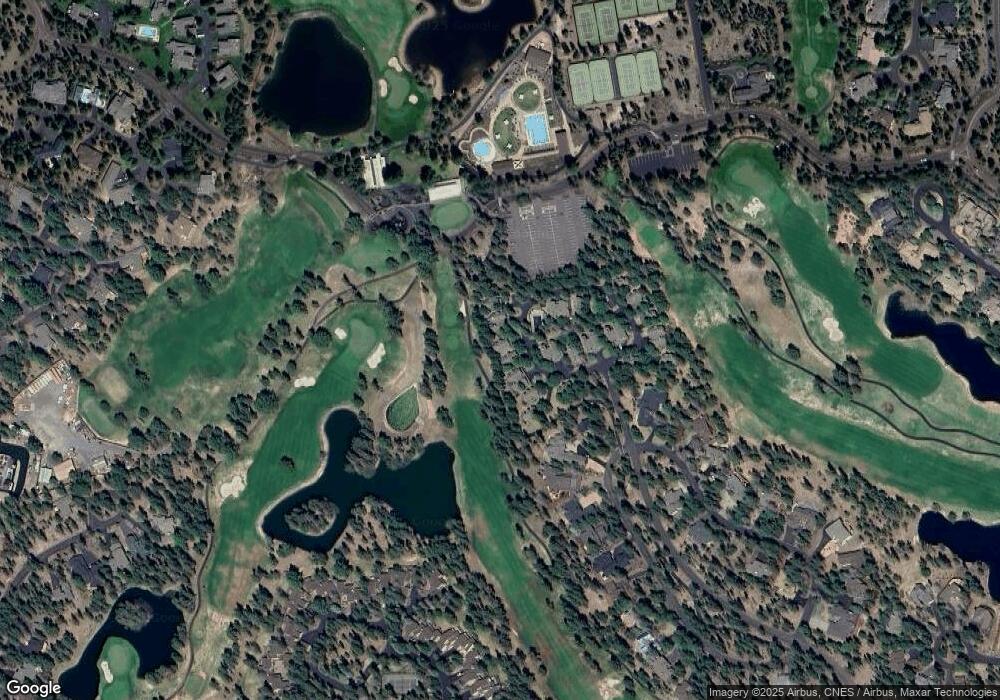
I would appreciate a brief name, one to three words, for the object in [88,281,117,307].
house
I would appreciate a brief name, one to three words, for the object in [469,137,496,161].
swimming pool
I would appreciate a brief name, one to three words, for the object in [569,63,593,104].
tennis court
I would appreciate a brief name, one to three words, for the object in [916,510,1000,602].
pond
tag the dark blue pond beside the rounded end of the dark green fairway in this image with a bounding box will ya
[886,292,1000,401]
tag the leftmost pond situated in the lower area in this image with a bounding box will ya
[58,587,185,700]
